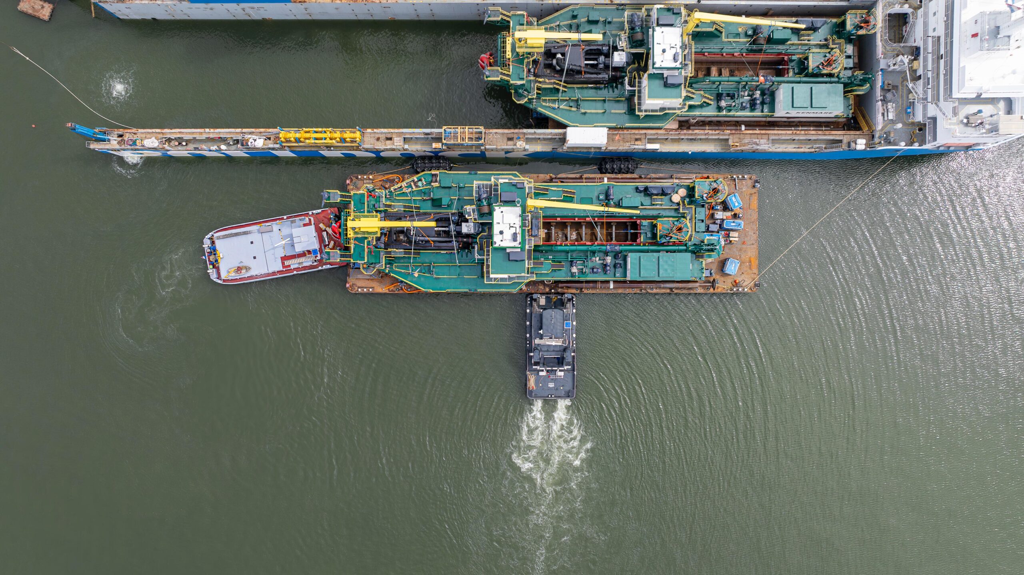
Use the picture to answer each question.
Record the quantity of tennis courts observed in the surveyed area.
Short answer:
0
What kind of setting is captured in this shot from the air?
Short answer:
port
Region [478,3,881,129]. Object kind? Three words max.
ship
